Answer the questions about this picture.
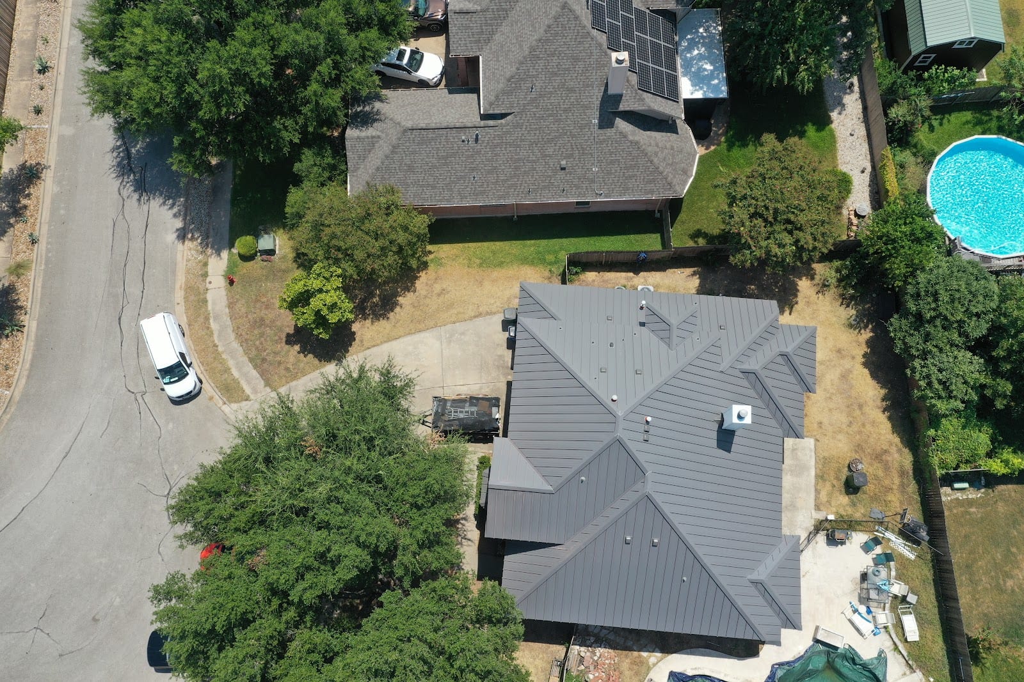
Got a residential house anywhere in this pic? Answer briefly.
Yes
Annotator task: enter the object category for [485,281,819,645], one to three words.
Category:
house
